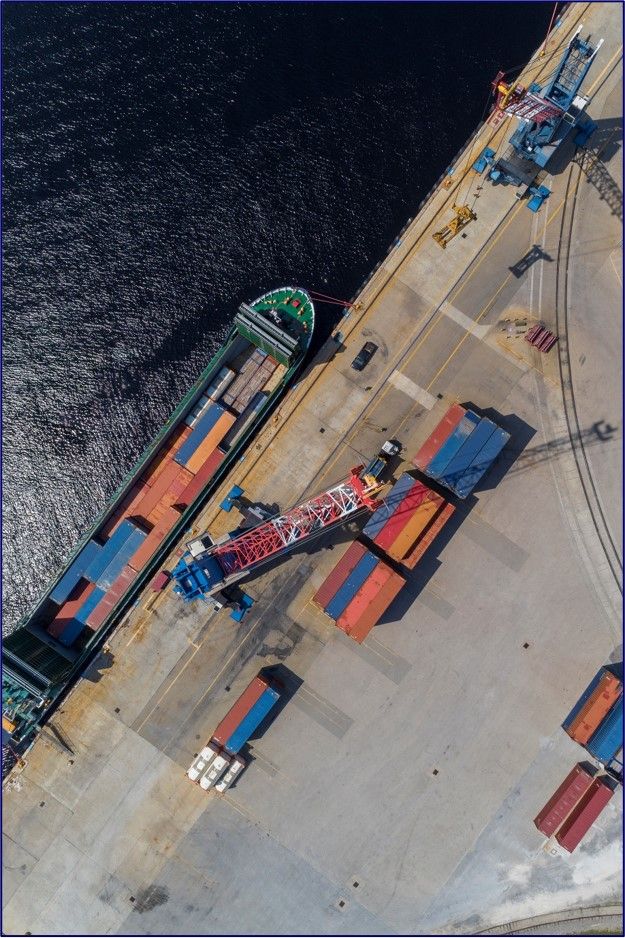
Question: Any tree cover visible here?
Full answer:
No, there's no tree cover in this view.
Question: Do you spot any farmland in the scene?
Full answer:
No, there's no farmland in this view.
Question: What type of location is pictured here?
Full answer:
What you see here is a port.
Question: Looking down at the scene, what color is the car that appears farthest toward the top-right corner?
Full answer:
In this view, the car that appears farthest toward the top-right corner is black.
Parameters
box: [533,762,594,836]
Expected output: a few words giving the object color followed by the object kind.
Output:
red shipping container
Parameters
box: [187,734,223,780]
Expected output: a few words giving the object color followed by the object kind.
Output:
white truck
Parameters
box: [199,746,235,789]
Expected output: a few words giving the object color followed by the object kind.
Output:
white truck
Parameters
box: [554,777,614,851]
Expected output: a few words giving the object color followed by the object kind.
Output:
red shipping container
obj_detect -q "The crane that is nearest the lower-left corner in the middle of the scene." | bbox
[171,464,390,618]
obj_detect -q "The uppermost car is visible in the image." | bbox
[352,343,376,371]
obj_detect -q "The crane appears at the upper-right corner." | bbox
[472,14,616,211]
